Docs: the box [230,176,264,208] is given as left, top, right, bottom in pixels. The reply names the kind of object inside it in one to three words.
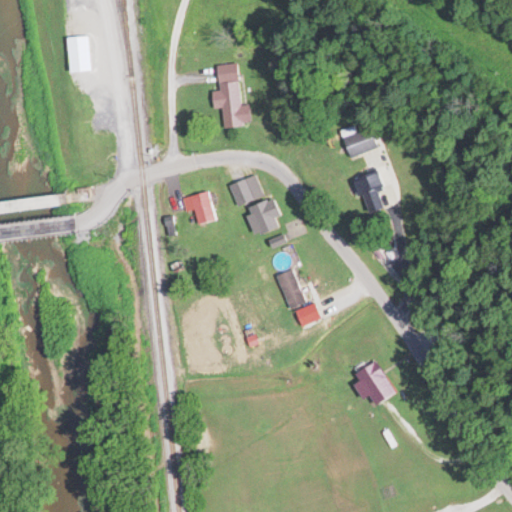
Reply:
house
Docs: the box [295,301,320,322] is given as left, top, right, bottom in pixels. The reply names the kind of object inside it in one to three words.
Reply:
building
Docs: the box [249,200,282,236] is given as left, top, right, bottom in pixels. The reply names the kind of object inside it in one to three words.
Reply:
house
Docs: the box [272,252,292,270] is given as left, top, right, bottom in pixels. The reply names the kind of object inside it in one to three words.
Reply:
swimming pool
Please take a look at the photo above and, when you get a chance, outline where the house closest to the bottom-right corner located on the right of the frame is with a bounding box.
[354,362,395,406]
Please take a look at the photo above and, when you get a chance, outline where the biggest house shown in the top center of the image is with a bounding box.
[212,62,252,128]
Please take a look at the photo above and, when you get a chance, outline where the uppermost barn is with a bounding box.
[68,35,92,72]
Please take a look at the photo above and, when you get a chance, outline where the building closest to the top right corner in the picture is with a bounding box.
[340,128,376,157]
